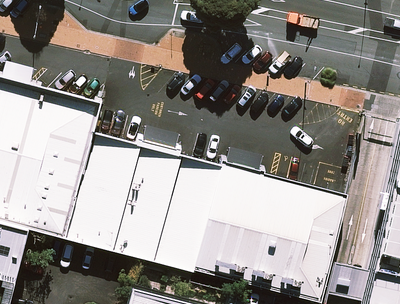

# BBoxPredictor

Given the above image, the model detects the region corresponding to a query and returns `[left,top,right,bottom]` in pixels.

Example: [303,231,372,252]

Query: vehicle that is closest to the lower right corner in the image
[378,254,400,269]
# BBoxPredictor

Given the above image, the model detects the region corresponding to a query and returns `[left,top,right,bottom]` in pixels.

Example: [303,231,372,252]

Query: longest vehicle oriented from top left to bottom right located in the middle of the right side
[289,124,316,147]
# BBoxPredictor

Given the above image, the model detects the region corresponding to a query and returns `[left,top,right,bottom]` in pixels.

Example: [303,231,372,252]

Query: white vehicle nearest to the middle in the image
[207,132,220,158]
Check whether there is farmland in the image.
No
